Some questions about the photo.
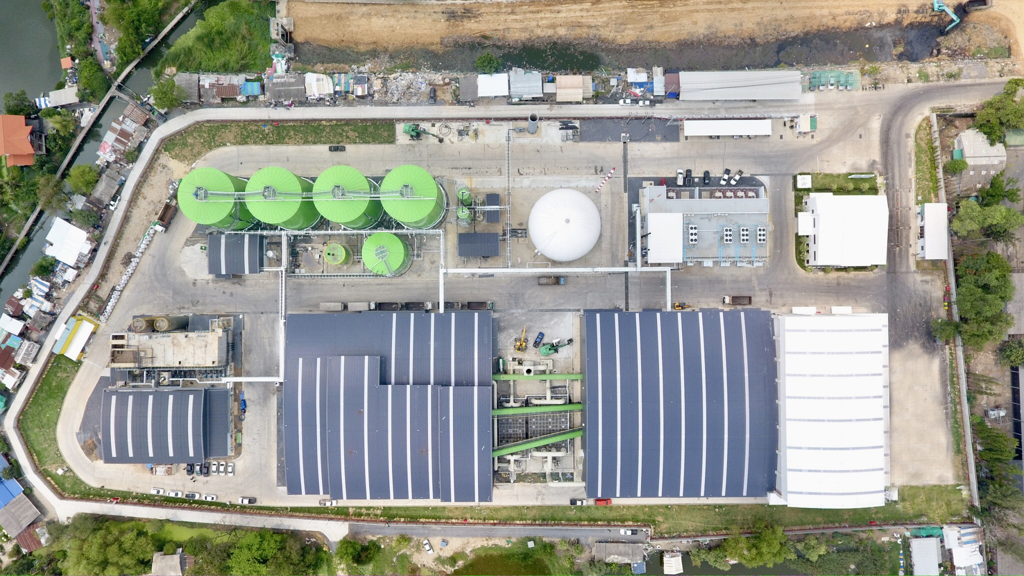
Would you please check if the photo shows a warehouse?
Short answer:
Yes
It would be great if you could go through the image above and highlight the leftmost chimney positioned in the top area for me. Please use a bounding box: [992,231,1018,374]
[526,111,540,139]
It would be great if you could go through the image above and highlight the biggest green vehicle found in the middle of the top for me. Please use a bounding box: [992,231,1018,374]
[405,126,442,142]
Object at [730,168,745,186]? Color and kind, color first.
white vehicle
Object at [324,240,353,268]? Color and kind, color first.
green storage tank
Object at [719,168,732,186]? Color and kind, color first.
white vehicle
